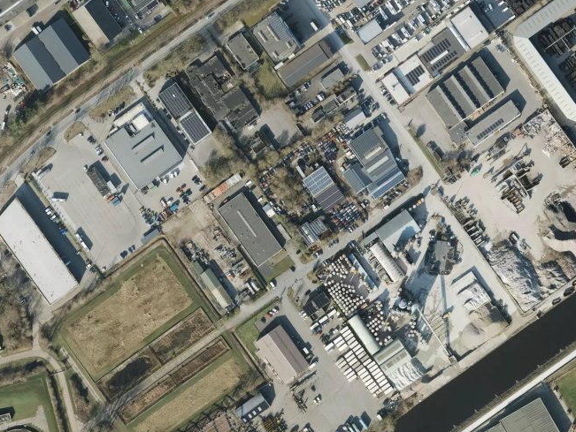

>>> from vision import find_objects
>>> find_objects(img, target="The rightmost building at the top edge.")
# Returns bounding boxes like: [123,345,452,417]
[474,0,515,34]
